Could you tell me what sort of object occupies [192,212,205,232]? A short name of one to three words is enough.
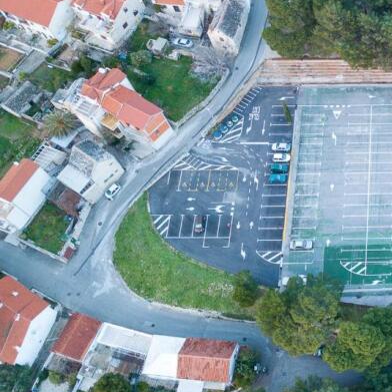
vehicle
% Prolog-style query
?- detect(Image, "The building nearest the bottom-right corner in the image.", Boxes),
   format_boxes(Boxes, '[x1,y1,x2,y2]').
[176,338,239,392]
